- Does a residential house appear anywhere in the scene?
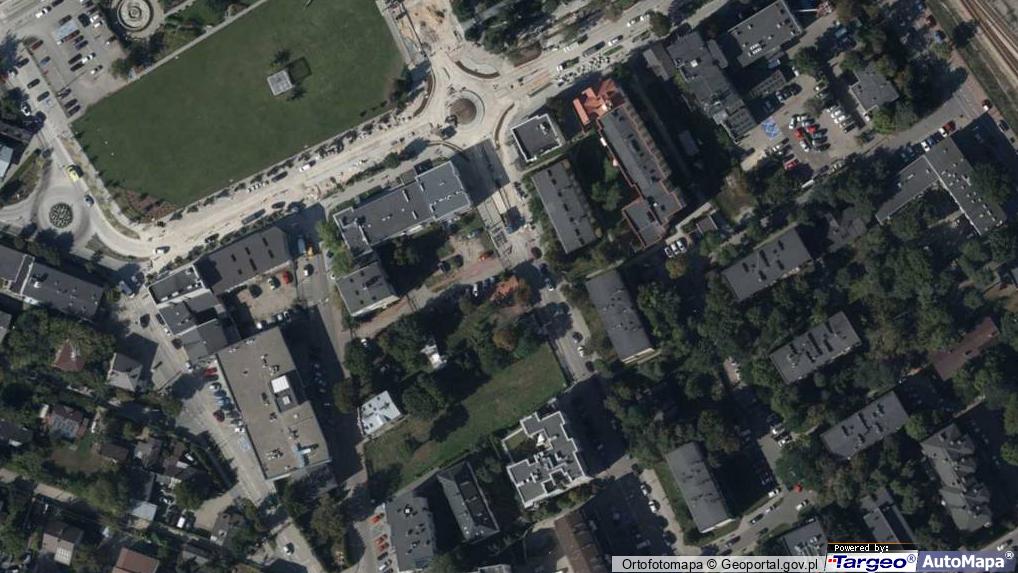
Yes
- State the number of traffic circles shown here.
2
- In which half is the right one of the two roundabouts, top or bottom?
top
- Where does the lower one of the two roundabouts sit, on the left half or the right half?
left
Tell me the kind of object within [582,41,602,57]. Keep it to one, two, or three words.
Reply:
vehicle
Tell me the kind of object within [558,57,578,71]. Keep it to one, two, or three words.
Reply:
vehicle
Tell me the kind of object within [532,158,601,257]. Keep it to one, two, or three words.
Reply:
building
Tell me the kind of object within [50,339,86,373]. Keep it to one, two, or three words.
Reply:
house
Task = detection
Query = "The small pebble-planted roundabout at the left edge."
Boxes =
[27,181,95,251]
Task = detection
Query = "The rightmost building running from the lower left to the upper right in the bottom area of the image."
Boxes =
[936,316,1000,373]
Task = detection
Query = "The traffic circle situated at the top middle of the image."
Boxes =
[424,72,503,150]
